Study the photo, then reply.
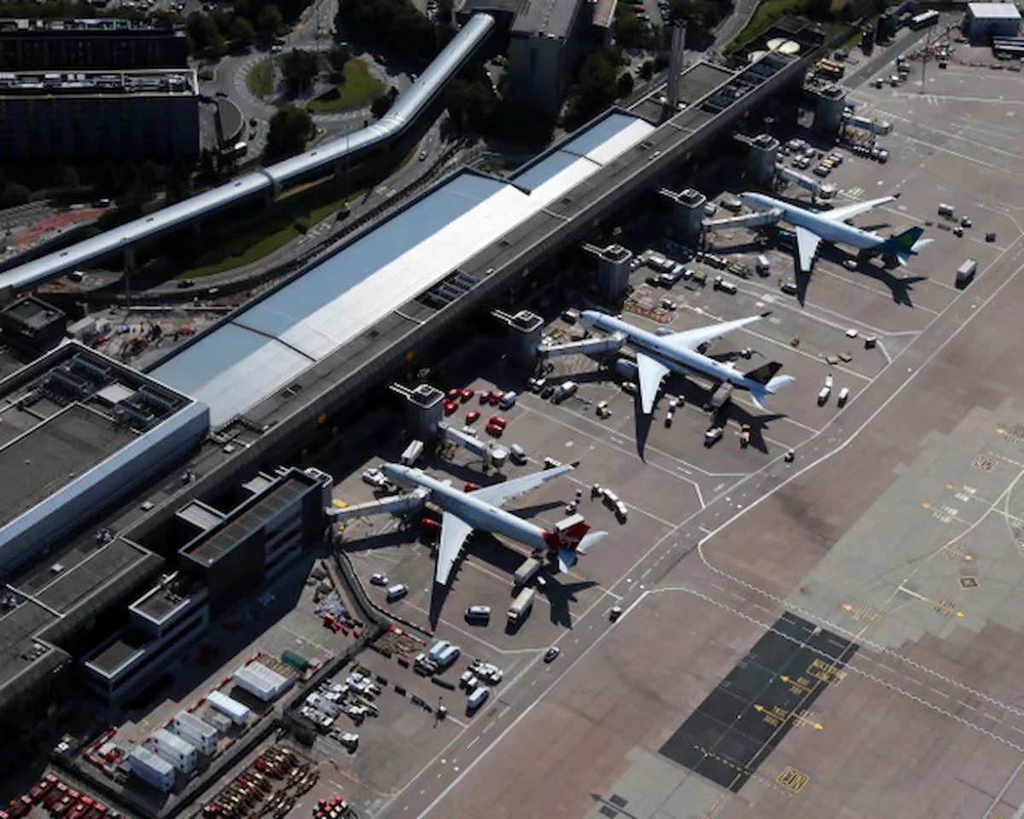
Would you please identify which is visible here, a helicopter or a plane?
plane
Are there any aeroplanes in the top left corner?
No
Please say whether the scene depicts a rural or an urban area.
urban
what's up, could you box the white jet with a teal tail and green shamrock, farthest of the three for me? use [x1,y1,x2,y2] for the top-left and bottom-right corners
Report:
[737,189,930,271]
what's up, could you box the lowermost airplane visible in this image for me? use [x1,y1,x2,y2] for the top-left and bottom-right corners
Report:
[378,459,603,583]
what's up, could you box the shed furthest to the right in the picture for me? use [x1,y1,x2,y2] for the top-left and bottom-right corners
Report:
[957,0,1023,45]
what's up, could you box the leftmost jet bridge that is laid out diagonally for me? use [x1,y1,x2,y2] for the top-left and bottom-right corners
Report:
[434,420,508,475]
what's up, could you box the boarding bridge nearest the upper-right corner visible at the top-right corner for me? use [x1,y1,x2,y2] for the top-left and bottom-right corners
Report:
[838,110,892,144]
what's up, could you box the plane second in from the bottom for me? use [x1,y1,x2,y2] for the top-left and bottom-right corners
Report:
[581,309,793,411]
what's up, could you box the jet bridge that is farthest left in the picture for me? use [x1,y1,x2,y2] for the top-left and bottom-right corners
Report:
[324,489,436,540]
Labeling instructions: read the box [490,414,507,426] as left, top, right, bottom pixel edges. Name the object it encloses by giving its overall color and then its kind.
red vehicle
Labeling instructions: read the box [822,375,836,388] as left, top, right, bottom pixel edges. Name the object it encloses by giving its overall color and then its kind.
white vehicle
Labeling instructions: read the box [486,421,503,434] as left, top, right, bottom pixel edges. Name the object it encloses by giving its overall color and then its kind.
red vehicle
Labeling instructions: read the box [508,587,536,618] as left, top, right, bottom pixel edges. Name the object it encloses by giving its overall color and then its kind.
white truck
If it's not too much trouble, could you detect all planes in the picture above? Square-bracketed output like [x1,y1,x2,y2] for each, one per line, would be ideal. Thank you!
[581,309,793,411]
[378,459,603,583]
[737,189,930,271]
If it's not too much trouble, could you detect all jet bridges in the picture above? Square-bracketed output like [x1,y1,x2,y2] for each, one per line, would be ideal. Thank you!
[838,110,892,144]
[434,420,508,475]
[533,332,631,374]
[324,489,436,540]
[772,163,837,208]
[697,209,787,248]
